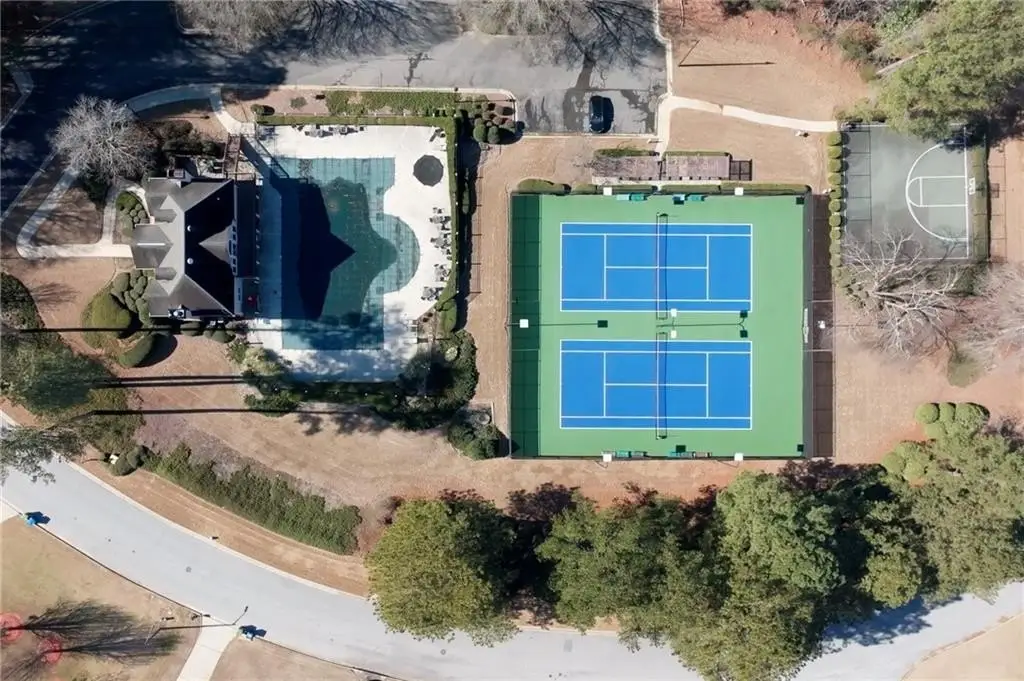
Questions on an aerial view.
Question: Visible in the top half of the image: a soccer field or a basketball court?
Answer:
basketball court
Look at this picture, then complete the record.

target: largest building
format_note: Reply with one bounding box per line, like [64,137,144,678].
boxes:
[131,164,267,320]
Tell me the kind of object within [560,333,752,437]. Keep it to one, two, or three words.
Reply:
tennis court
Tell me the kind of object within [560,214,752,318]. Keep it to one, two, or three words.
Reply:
tennis court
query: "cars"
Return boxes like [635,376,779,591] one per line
[589,95,606,132]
